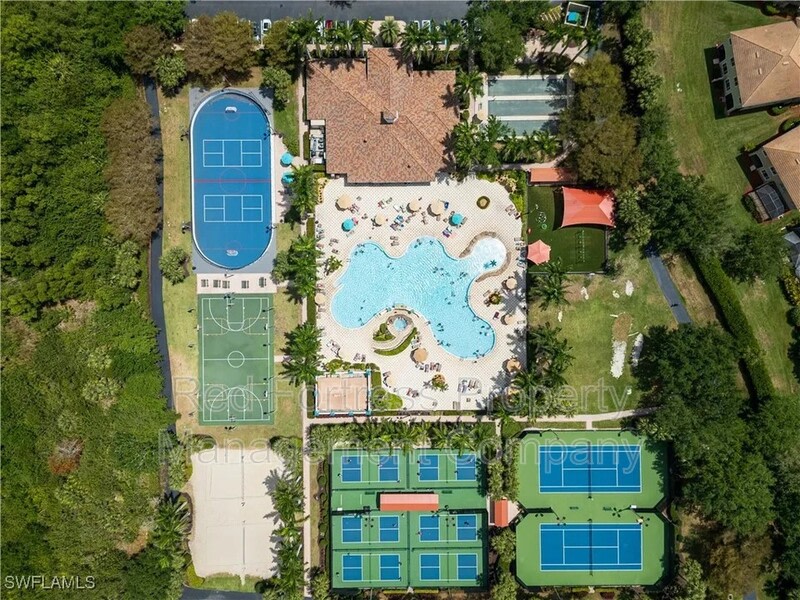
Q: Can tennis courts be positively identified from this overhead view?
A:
Yes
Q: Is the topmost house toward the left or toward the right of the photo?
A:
right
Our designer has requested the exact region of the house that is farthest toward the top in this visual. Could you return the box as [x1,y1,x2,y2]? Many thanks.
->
[716,16,800,114]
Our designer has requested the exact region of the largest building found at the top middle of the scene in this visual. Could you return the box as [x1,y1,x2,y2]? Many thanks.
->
[306,46,457,184]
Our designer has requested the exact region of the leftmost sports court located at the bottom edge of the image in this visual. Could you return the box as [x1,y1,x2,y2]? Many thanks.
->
[187,447,290,583]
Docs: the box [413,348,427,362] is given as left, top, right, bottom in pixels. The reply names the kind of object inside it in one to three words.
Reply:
umbrella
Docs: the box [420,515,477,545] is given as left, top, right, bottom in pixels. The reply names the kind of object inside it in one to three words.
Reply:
sports court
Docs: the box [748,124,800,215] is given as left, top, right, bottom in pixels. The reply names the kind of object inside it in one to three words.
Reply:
house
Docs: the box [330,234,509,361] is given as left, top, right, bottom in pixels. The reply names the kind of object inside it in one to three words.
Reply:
swimming pool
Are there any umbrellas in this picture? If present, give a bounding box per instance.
[413,348,427,362]
[506,358,520,372]
[505,315,516,325]
[528,241,551,266]
[505,278,516,289]
[409,198,422,212]
[342,219,355,230]
[338,194,353,209]
[282,154,294,166]
[387,375,398,386]
[374,213,386,226]
[430,200,445,215]
[316,294,326,304]
[450,212,463,226]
